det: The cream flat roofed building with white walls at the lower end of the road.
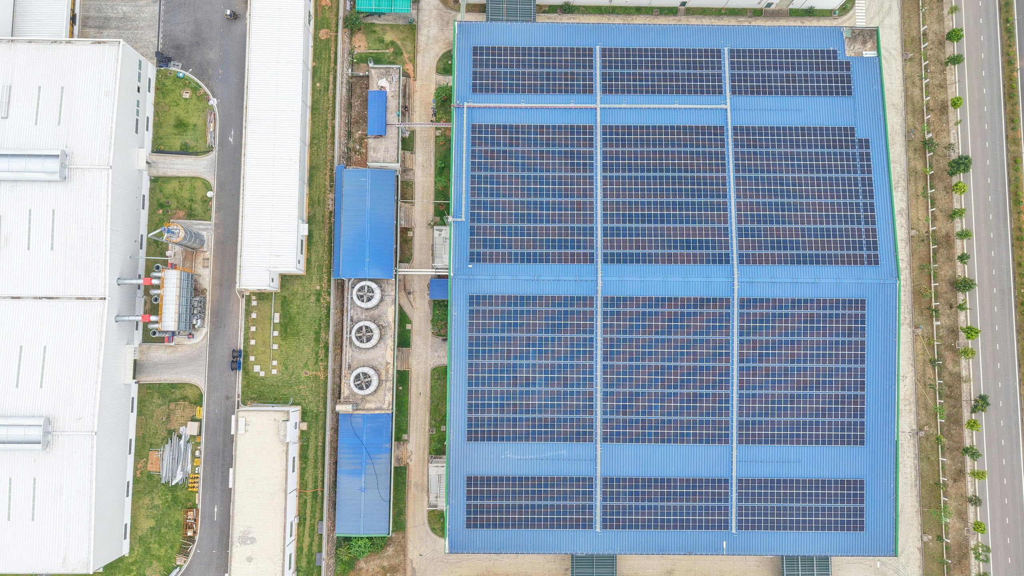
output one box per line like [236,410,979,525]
[227,403,304,576]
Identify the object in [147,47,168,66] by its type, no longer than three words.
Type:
work vehicle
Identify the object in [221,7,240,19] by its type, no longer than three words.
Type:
vehicle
